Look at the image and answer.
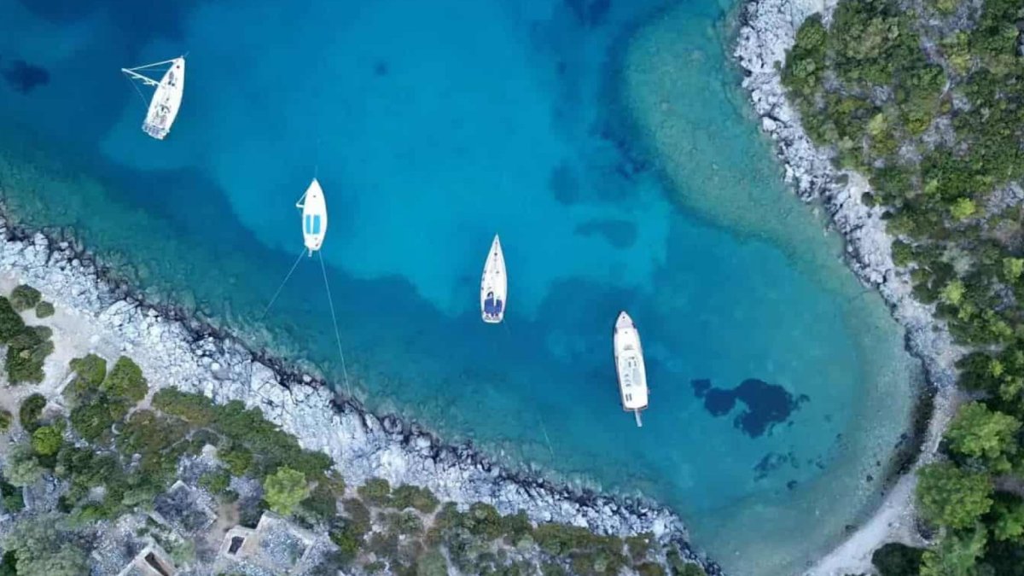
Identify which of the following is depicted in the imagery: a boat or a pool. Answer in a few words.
boat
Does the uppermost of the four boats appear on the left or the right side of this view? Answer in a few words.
left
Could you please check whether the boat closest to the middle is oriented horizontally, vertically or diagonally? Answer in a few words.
vertically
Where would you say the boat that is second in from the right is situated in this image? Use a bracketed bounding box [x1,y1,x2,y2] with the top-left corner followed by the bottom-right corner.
[482,233,508,322]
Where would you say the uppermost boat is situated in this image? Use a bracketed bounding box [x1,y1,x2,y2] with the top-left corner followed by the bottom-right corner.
[115,55,187,142]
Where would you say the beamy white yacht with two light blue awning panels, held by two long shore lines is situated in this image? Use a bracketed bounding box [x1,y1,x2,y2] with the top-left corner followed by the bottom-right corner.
[296,177,328,261]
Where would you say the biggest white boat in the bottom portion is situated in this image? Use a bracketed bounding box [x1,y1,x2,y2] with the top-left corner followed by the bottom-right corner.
[611,311,647,425]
